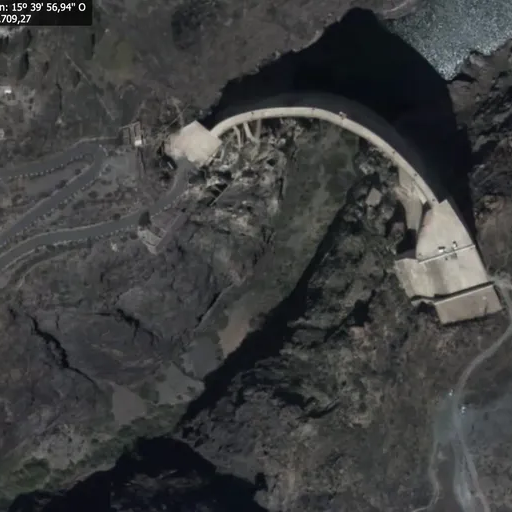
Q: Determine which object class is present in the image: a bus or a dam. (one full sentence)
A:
Looking from above, you can make out a dam.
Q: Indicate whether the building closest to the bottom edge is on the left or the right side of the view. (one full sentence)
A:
It is on the right.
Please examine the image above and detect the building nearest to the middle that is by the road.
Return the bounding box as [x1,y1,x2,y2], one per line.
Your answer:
[138,209,189,252]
